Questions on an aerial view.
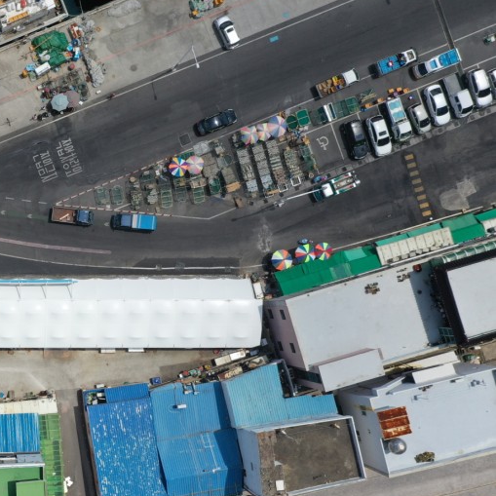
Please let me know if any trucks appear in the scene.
Yes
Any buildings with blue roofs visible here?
Yes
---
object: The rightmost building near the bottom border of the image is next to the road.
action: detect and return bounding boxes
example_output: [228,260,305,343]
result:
[339,355,496,477]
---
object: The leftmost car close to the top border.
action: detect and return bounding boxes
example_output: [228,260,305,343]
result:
[210,13,243,53]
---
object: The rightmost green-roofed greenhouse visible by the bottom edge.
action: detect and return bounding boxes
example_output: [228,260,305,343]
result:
[41,413,64,496]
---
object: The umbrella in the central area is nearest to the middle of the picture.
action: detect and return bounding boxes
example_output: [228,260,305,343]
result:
[271,249,292,270]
